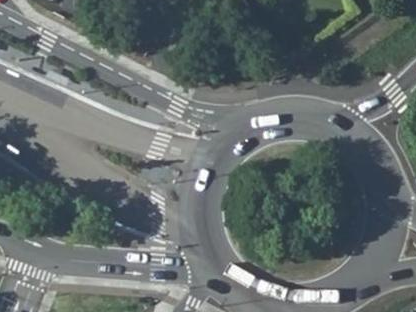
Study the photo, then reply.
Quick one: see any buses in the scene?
Yes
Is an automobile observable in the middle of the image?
Yes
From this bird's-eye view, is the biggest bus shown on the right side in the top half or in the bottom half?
bottom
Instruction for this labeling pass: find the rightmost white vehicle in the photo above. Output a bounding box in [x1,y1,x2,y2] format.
[356,95,380,110]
